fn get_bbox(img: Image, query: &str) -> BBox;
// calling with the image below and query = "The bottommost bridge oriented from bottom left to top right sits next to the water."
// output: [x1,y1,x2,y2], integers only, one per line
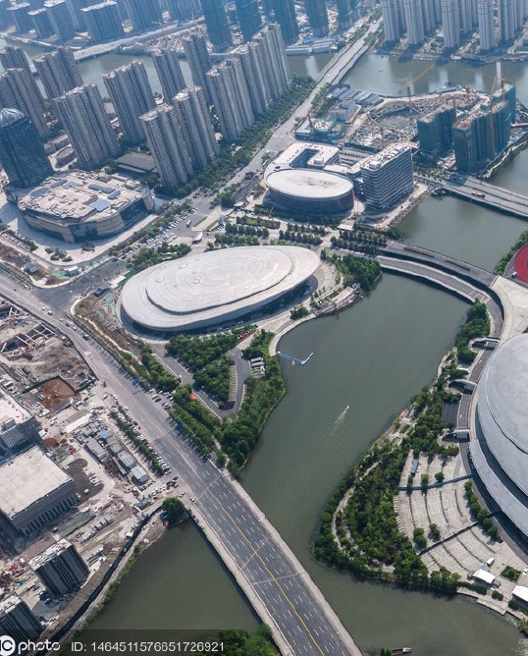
[308,46,370,102]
